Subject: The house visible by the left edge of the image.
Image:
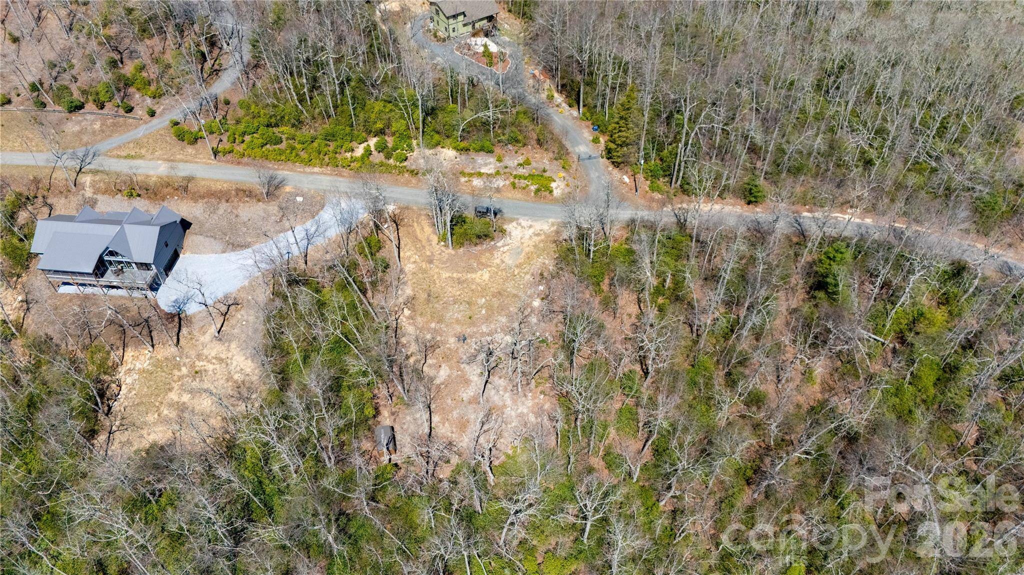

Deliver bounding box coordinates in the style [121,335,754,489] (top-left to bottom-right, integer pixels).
[28,203,187,298]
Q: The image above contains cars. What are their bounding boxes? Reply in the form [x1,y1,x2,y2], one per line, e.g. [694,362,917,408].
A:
[474,203,498,217]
